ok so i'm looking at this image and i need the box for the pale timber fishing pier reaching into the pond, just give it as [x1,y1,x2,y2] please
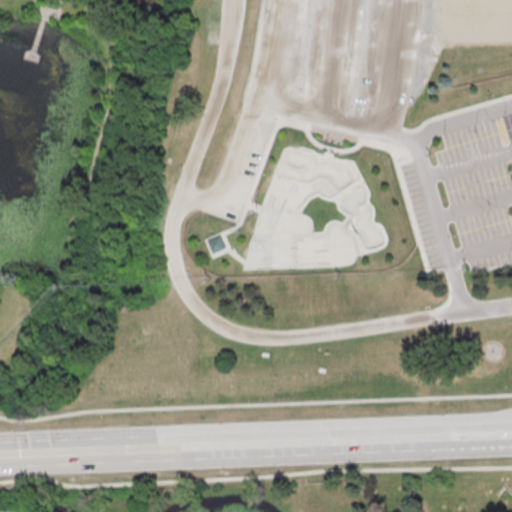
[24,7,62,64]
